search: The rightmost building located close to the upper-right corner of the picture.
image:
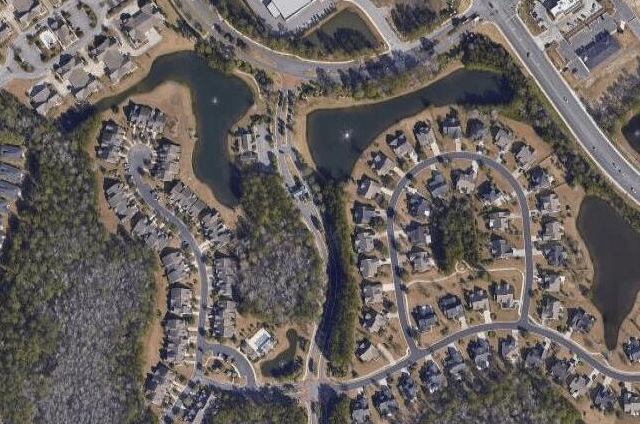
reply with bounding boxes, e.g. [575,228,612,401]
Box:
[577,32,619,69]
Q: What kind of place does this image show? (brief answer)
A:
residential area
